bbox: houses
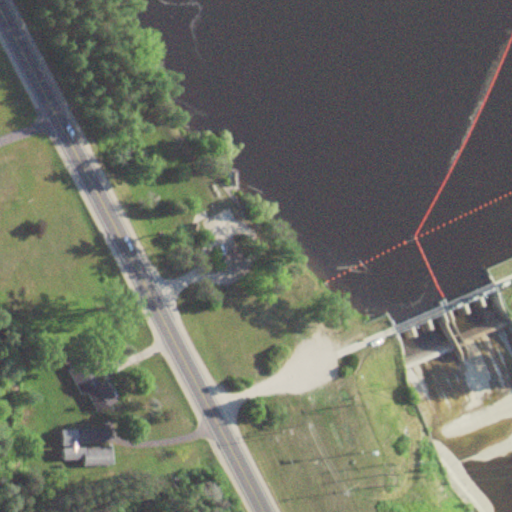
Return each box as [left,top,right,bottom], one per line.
[70,366,120,414]
[61,430,114,468]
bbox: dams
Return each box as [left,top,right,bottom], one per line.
[362,256,512,436]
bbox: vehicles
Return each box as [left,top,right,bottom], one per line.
[220,242,225,252]
[66,126,74,136]
[502,280,512,288]
[126,239,134,250]
[371,338,384,347]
